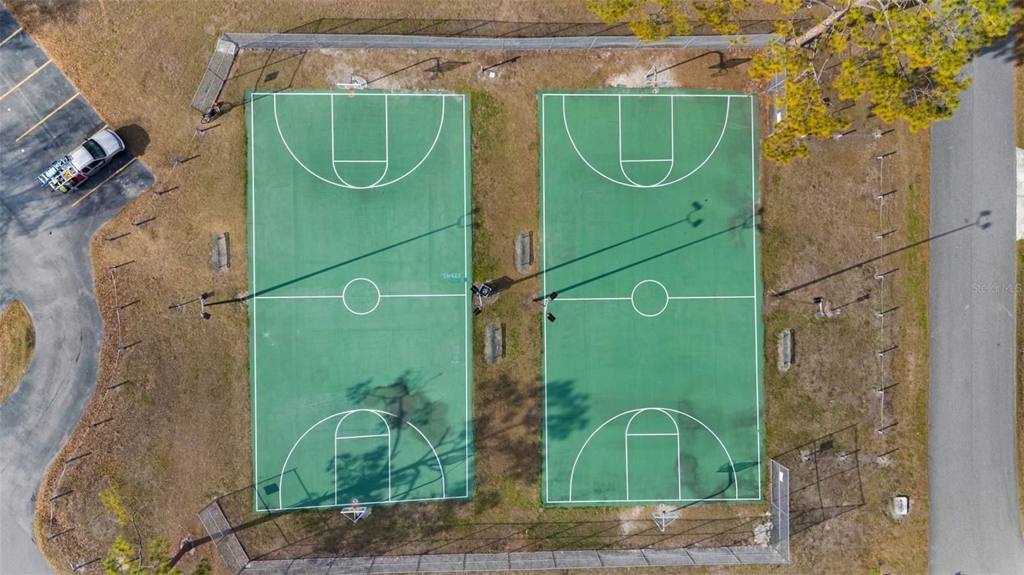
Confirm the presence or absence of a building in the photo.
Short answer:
No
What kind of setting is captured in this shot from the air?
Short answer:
sports ground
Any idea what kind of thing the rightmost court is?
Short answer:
basketball court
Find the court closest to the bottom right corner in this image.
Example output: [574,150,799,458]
[538,89,765,508]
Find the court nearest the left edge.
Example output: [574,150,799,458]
[246,90,473,513]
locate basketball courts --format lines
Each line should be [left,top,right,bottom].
[246,90,473,513]
[538,89,765,508]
